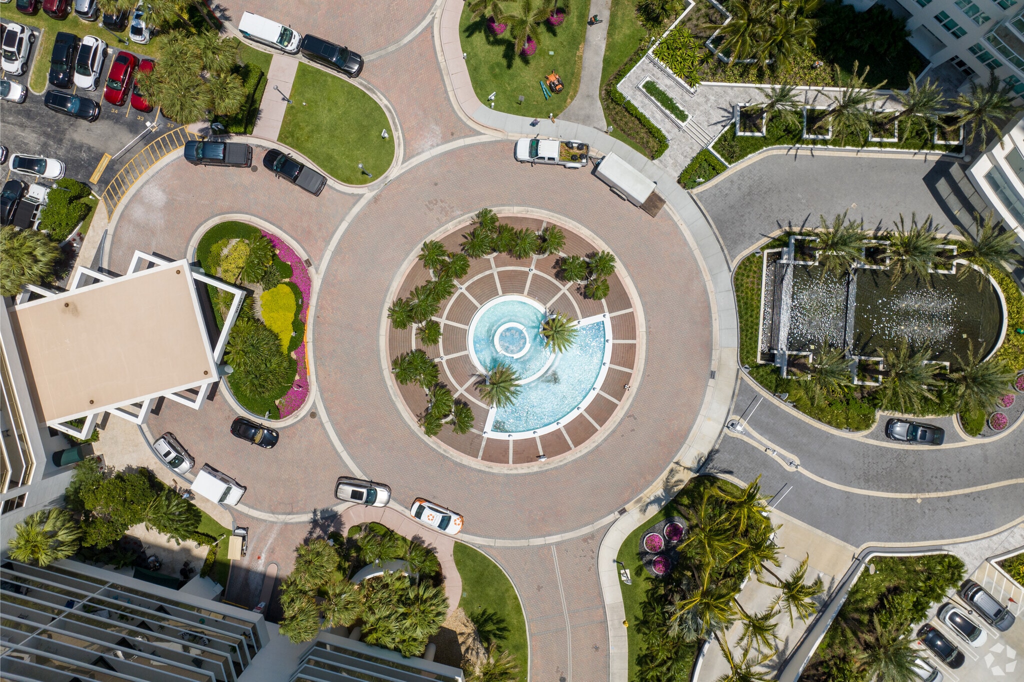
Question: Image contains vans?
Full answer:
Yes, you can see a van in this photo.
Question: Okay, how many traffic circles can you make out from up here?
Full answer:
The picture shows just 1 traffic circle.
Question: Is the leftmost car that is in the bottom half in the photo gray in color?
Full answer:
Yes, gray is the color of the leftmost car that is in the bottom half.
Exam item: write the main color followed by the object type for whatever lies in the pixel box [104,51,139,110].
red car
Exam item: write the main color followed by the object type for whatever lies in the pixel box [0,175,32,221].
black car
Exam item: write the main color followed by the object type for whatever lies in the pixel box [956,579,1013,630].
gray car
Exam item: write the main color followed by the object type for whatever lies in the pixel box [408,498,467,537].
white car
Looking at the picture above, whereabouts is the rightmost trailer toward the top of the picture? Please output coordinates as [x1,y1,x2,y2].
[590,152,664,219]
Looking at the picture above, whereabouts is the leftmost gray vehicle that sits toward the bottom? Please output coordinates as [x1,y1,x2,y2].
[152,429,199,479]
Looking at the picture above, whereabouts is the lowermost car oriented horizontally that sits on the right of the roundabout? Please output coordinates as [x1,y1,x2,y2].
[882,417,945,445]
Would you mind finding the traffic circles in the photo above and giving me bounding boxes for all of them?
[307,131,718,551]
